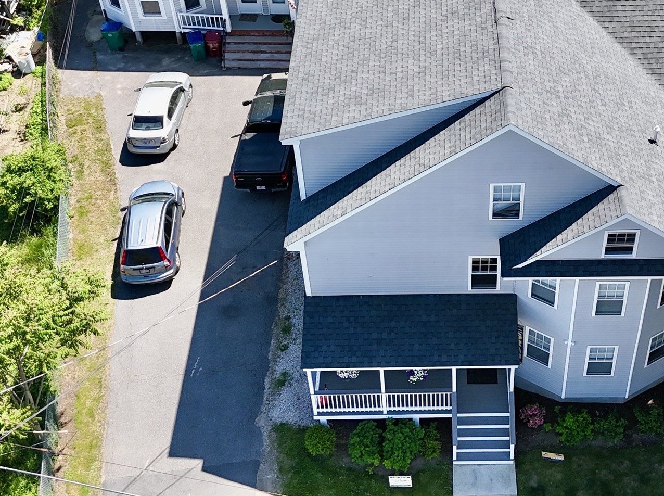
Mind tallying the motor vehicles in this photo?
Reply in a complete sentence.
The count of motor vehicles comes to 3.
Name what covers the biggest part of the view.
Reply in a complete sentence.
Most of the picture is covered by buildings.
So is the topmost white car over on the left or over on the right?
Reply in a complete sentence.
The topmost white car is on the left side of the image.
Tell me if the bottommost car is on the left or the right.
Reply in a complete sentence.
The bottommost car is on the left side of the image.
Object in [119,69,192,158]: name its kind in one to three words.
car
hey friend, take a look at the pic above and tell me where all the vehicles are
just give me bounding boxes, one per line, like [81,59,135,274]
[231,73,294,191]
[120,178,188,282]
[119,69,192,158]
